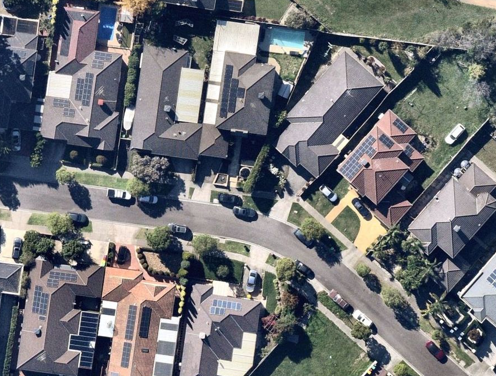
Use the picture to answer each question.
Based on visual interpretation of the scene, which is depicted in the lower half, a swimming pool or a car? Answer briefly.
car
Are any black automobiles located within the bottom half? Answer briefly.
Yes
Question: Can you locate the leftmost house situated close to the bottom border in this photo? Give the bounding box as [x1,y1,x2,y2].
[17,256,106,376]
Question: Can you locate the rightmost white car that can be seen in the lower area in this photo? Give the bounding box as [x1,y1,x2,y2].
[353,309,374,328]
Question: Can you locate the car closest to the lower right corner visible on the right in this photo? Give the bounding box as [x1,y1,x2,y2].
[426,343,445,362]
